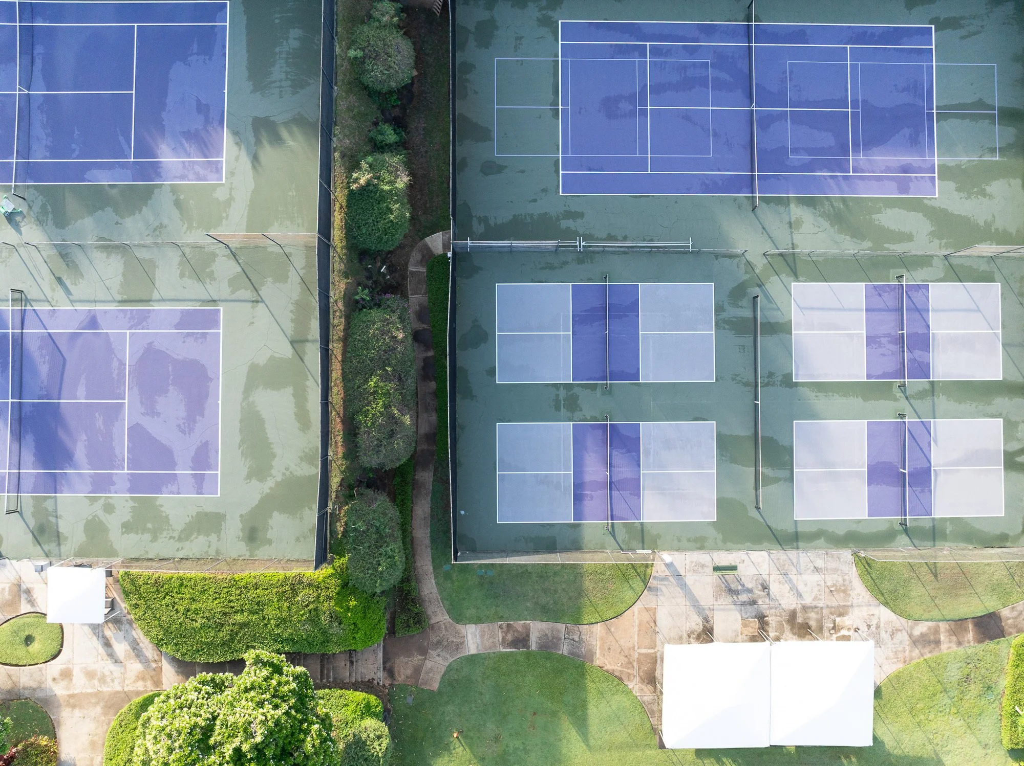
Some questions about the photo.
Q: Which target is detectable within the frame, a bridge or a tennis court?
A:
tennis court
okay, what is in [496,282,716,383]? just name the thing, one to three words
sports court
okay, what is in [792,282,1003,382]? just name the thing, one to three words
sports court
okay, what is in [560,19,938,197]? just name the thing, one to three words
tennis court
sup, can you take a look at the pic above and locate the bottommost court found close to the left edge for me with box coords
[0,307,223,497]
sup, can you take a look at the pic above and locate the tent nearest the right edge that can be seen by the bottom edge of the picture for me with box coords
[758,628,874,748]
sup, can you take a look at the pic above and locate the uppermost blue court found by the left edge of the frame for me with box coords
[0,0,228,184]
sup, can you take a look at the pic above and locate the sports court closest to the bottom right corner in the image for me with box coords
[794,419,1005,520]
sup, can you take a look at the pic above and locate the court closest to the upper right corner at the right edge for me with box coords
[788,61,999,159]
